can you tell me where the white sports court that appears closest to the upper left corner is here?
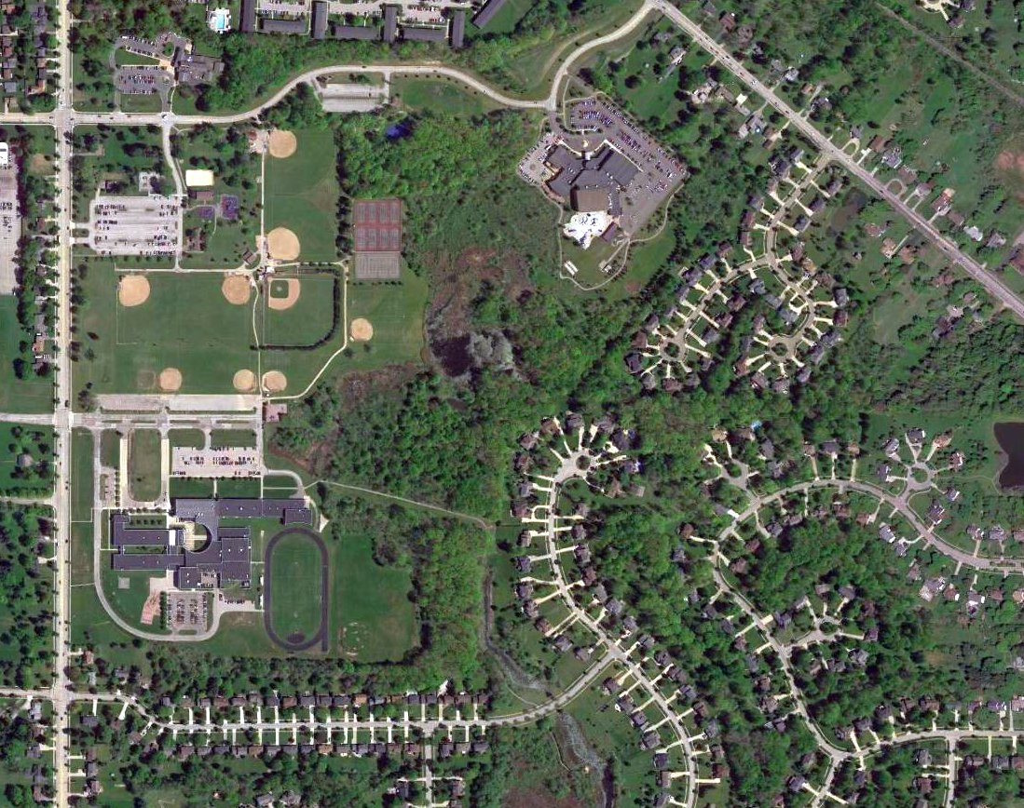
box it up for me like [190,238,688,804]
[186,170,214,186]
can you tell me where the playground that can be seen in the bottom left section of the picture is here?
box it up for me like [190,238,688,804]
[141,591,166,625]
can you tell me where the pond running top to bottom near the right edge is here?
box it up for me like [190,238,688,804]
[993,420,1024,489]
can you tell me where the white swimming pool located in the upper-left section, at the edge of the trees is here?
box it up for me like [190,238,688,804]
[209,8,231,32]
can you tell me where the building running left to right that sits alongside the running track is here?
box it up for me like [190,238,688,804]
[113,500,312,589]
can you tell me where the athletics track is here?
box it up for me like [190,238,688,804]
[264,527,329,652]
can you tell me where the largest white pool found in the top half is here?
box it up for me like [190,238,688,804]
[564,212,618,249]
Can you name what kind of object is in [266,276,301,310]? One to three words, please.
baseball field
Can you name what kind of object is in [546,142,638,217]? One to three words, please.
building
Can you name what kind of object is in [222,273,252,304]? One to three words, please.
baseball field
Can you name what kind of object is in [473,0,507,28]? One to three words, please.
building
